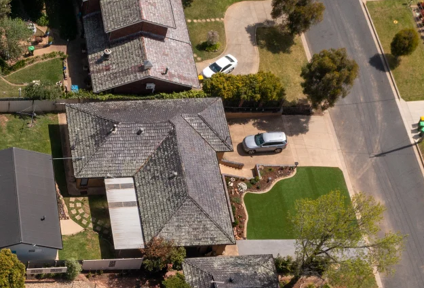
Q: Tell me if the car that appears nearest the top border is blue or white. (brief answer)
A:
white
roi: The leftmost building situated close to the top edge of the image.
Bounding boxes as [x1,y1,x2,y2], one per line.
[75,0,201,101]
